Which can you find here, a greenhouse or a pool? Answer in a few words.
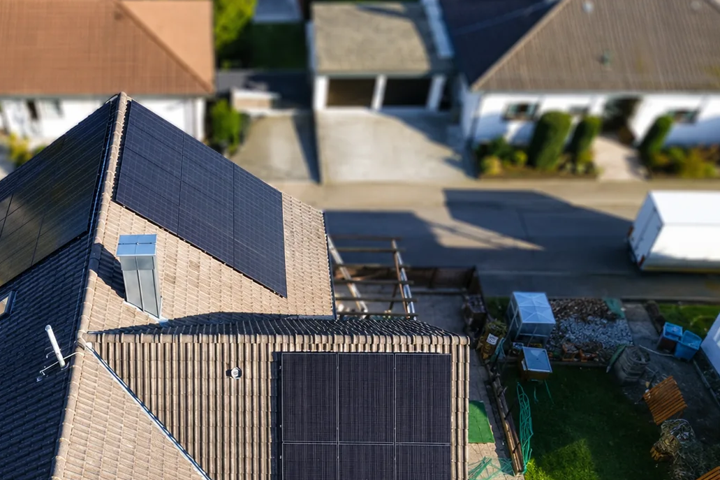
greenhouse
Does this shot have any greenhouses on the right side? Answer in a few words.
Yes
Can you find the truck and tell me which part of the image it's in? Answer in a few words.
right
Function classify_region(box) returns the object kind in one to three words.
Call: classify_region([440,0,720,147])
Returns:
house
